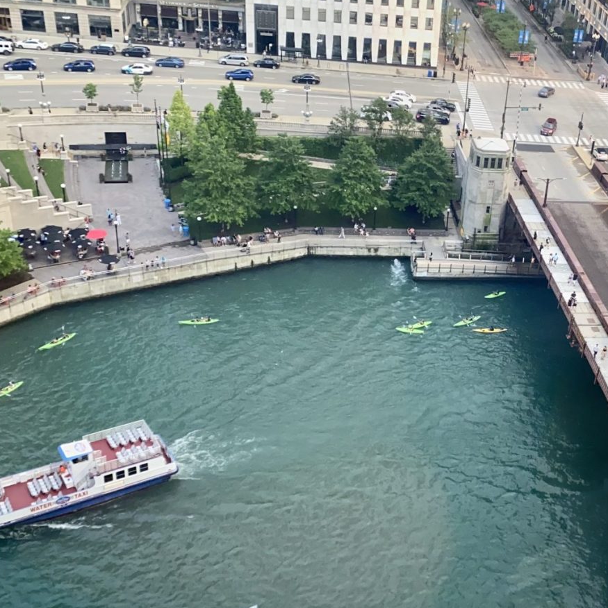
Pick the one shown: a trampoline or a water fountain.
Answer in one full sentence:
I can see a water fountain in this picture.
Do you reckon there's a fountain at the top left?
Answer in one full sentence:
Yes, a fountain can be seen at the top left.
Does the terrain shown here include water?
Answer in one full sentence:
Yes, there's water in this view.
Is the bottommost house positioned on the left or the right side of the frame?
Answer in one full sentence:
The bottommost house sits on the right side.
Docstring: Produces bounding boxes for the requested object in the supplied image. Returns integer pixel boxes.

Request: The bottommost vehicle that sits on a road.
[591,148,608,161]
